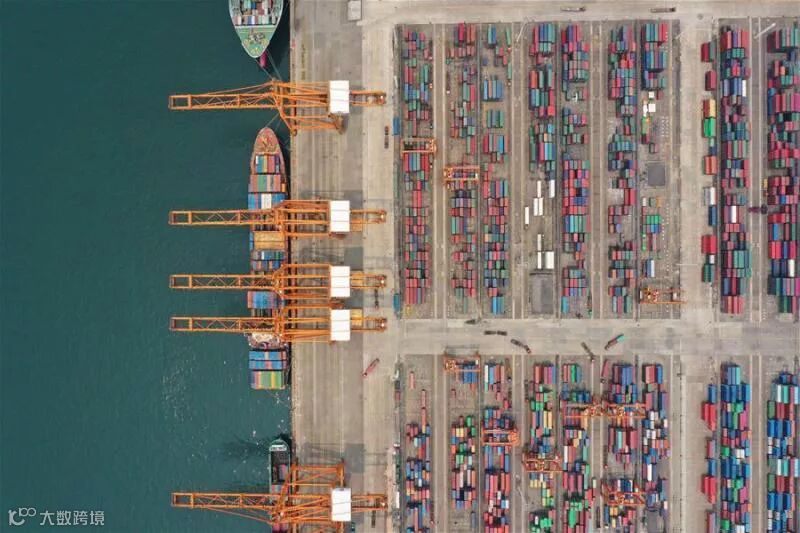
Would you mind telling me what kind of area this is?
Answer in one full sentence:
It's a port.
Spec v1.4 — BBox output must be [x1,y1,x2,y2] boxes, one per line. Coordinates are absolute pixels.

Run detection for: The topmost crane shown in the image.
[168,72,385,134]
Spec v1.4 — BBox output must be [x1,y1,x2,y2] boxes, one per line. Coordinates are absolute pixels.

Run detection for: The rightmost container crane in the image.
[638,285,695,304]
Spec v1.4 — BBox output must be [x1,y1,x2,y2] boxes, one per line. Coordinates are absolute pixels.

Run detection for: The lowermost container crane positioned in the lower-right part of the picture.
[601,479,648,507]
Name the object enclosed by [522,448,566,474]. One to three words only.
container crane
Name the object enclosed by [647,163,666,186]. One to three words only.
shed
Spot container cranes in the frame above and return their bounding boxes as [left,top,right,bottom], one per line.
[400,138,438,159]
[168,258,385,300]
[168,299,385,345]
[638,285,695,304]
[480,421,520,445]
[443,352,482,372]
[560,396,603,418]
[522,448,566,474]
[168,72,385,134]
[601,479,648,507]
[168,460,385,533]
[168,191,385,237]
[443,166,482,186]
[601,396,647,418]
